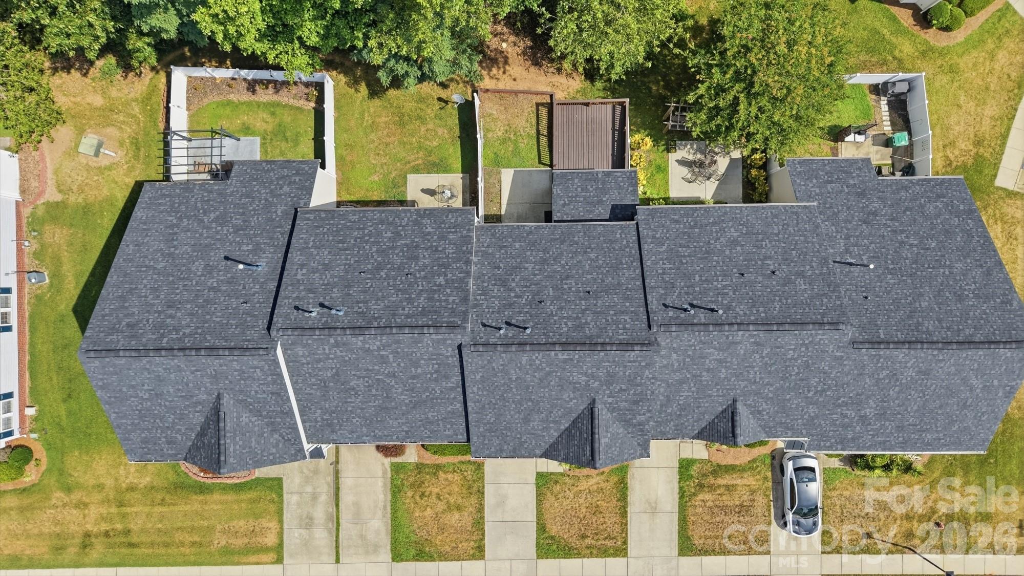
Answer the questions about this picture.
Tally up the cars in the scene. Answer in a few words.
1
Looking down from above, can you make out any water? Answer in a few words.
No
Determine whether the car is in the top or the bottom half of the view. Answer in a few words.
bottom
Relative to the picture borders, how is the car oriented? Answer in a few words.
from top to bottom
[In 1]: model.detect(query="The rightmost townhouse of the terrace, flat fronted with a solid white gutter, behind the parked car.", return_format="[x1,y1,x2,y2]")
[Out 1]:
[767,156,1024,455]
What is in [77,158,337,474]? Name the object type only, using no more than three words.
house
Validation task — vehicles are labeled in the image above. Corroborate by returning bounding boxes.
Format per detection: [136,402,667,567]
[782,450,827,536]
